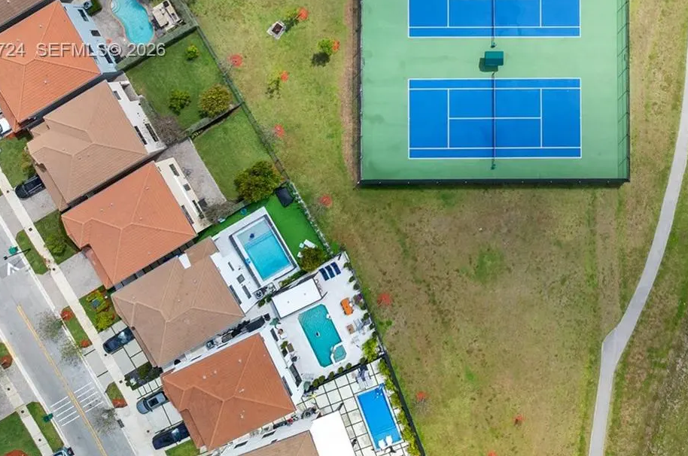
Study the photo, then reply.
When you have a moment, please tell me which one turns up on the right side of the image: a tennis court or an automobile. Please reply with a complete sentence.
It is a tennis court that can be seen on the right side of the image.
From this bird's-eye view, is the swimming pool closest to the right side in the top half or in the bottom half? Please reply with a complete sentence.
It is in the bottom half that the swimming pool closest to the right side appears.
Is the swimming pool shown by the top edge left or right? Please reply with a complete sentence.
It is on the left.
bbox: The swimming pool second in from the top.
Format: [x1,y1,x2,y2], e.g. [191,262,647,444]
[232,215,295,286]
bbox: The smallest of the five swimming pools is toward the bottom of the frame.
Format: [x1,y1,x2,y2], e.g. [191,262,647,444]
[332,346,348,364]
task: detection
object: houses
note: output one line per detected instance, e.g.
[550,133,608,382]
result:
[0,0,114,134]
[160,323,303,451]
[27,81,163,212]
[111,232,256,369]
[61,160,212,290]
[212,415,328,456]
